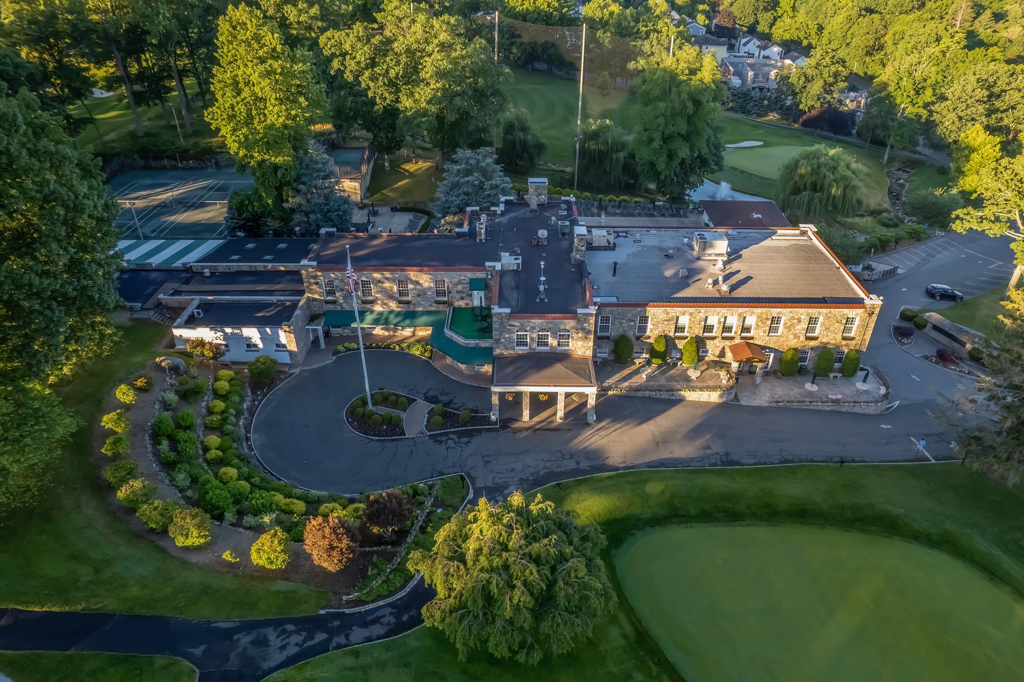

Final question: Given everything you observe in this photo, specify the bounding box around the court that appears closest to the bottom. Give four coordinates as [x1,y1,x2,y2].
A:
[88,171,273,243]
